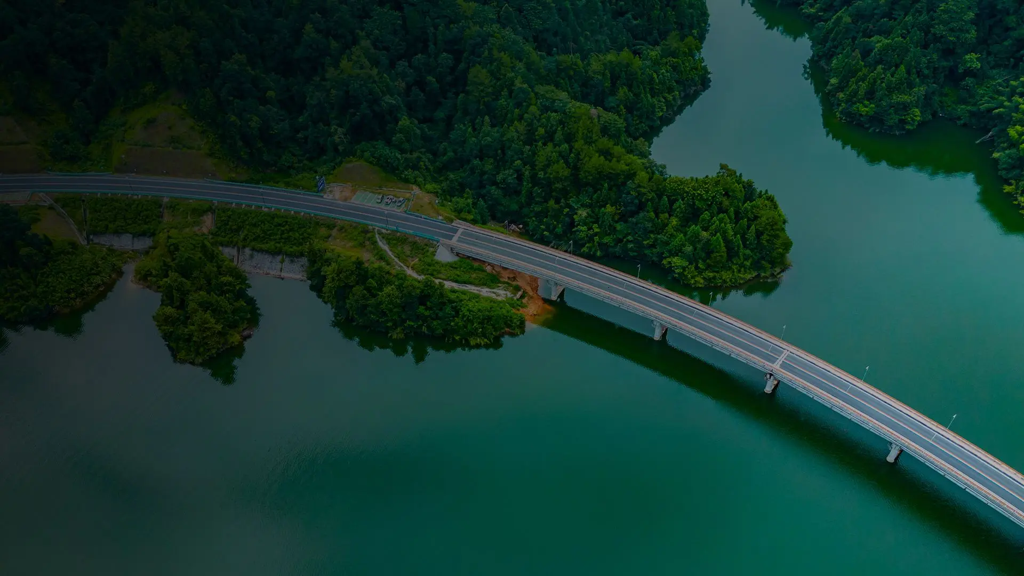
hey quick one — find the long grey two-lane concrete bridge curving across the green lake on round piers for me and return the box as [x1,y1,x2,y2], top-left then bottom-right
[425,218,1024,524]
